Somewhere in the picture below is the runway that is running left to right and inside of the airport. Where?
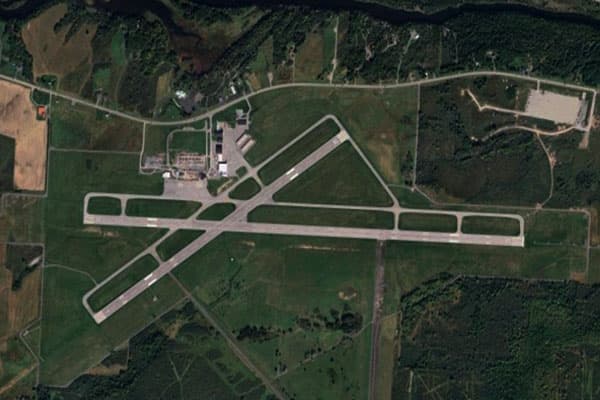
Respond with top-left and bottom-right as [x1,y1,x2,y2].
[84,215,524,247]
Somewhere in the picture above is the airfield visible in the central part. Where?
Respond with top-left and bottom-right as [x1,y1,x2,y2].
[83,115,525,323]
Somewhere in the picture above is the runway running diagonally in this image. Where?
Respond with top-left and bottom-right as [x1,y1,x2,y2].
[94,131,350,323]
